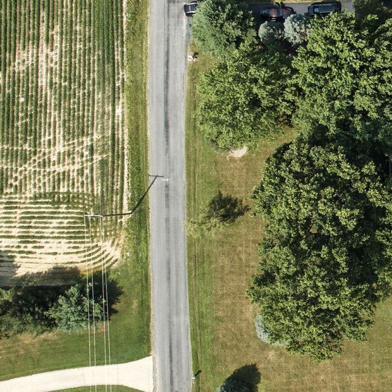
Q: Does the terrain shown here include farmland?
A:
Yes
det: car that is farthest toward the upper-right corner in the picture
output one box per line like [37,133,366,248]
[309,1,343,17]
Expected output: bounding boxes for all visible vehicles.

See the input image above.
[180,1,200,17]
[261,6,296,21]
[309,1,343,17]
